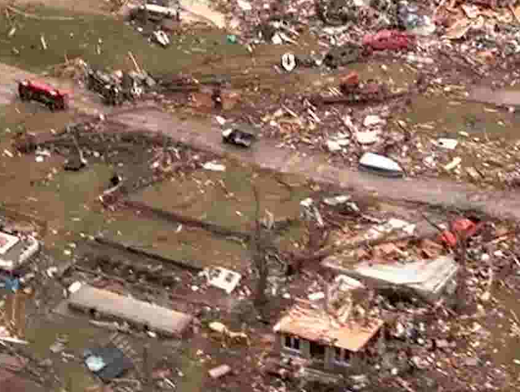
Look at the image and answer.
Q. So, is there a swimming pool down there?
No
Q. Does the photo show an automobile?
Yes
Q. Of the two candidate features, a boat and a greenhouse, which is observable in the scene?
boat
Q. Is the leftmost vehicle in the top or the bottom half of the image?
top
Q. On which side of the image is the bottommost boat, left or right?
right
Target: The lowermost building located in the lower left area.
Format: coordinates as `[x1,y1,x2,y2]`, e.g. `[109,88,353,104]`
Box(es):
[67,281,195,344]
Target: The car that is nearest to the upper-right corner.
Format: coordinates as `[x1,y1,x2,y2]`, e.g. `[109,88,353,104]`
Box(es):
[365,33,410,52]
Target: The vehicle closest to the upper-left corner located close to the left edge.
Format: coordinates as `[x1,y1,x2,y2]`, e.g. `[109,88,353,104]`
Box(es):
[16,75,70,110]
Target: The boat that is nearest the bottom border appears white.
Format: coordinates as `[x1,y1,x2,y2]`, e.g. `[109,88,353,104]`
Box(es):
[355,150,402,174]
